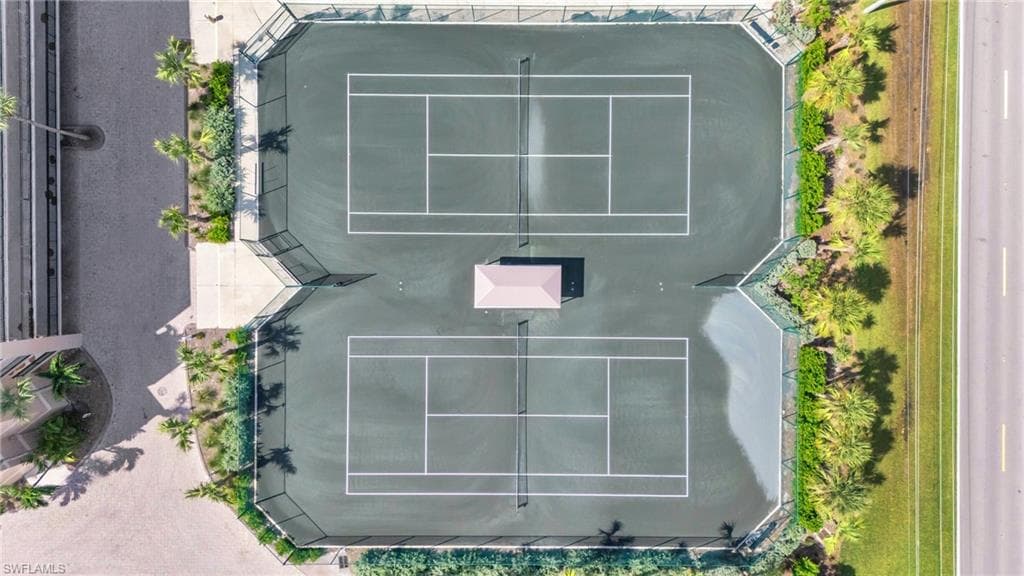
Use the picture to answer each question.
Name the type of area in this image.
sports ground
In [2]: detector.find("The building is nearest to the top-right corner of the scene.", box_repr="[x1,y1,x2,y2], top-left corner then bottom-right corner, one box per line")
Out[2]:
[474,264,562,309]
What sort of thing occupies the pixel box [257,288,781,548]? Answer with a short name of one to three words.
tennis court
